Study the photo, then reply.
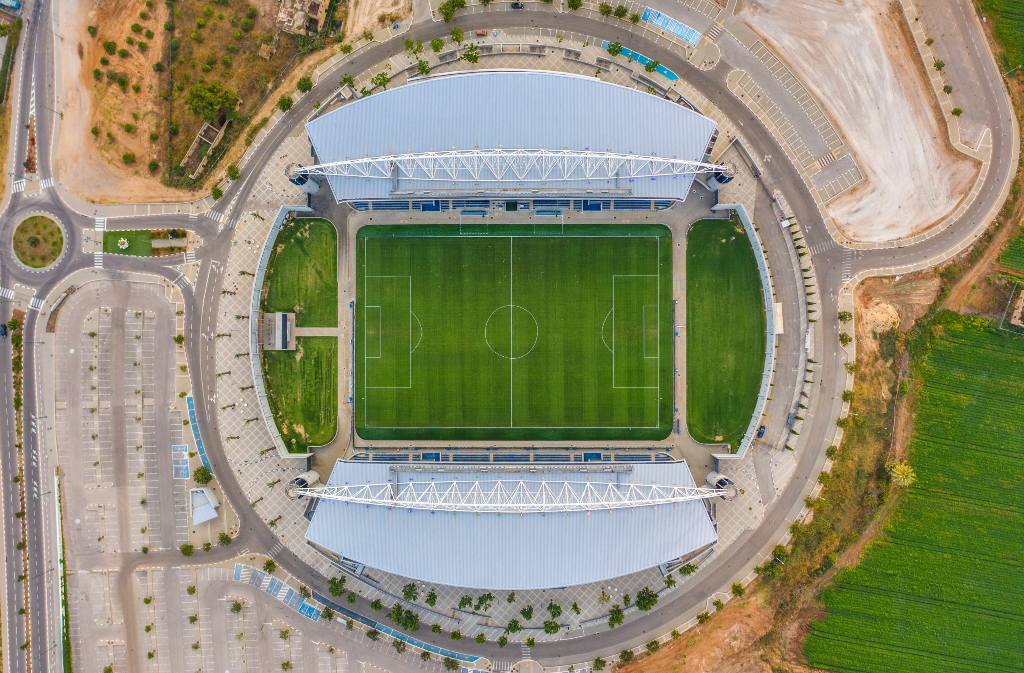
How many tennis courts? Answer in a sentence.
The picture shows no tennis courts.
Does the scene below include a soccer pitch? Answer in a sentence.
Yes, there's a soccer pitch down there.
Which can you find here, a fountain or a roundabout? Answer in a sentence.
Visible in the photo is a roundabout.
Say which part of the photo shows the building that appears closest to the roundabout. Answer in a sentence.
You can find the building that appears closest to the roundabout in the top left area of the picture.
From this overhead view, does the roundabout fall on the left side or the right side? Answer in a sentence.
The roundabout appears in the left half of the scene.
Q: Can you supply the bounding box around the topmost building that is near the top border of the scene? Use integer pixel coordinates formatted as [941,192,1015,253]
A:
[276,0,327,38]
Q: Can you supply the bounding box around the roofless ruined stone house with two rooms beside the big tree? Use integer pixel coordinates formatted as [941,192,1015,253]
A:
[177,120,228,178]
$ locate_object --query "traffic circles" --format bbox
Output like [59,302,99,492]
[7,211,69,273]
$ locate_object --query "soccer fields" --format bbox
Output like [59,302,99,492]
[356,225,673,440]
